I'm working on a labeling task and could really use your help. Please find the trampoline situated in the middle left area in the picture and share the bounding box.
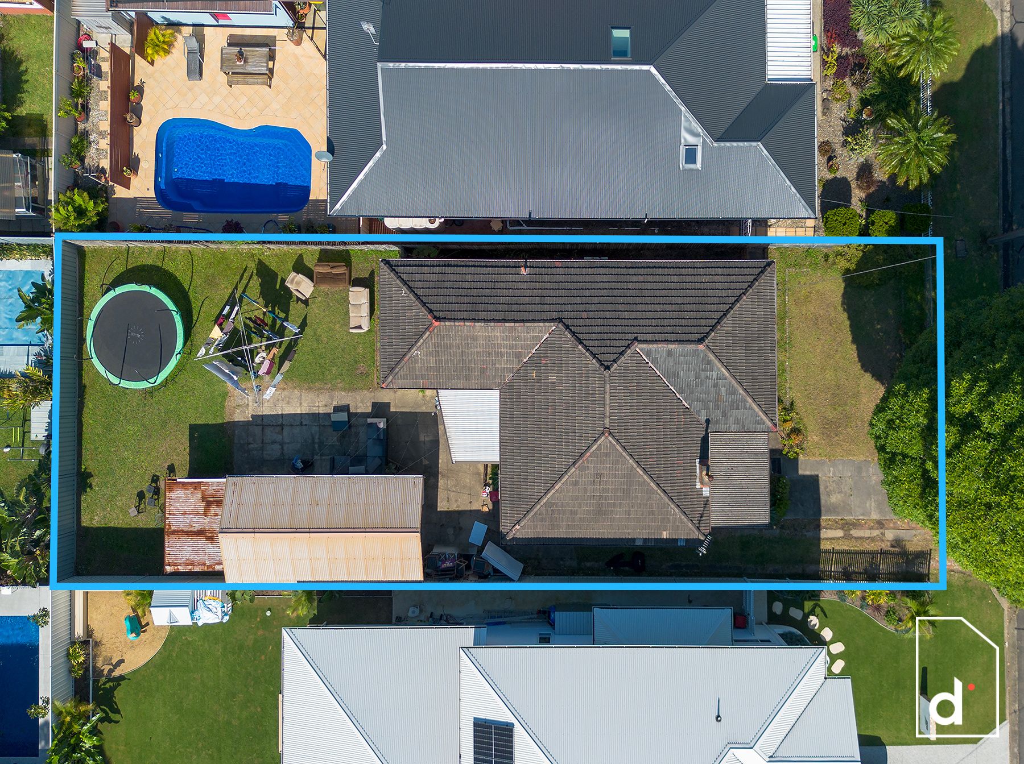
[74,281,189,395]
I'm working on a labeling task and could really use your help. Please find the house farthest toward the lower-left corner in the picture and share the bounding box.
[151,586,206,625]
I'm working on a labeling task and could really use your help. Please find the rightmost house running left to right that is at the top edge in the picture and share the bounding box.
[326,0,819,222]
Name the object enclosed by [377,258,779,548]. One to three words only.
house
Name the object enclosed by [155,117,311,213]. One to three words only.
swimming pool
